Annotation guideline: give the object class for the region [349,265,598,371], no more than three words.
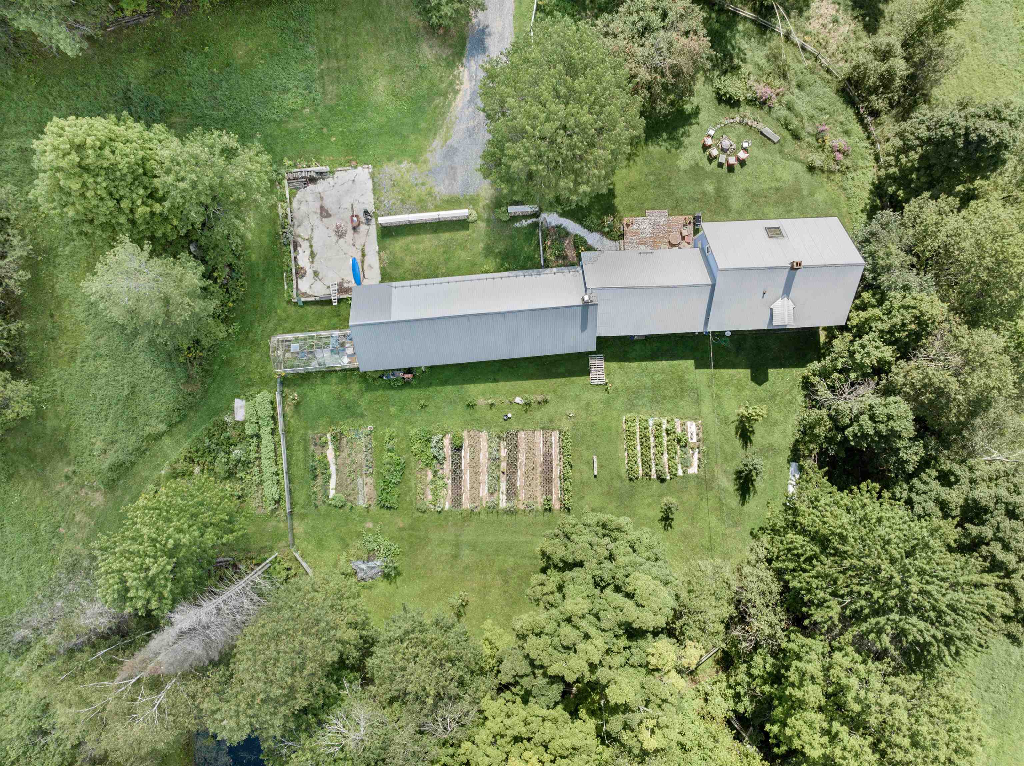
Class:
barn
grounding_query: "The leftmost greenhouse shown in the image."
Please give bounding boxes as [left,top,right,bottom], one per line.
[271,330,359,372]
